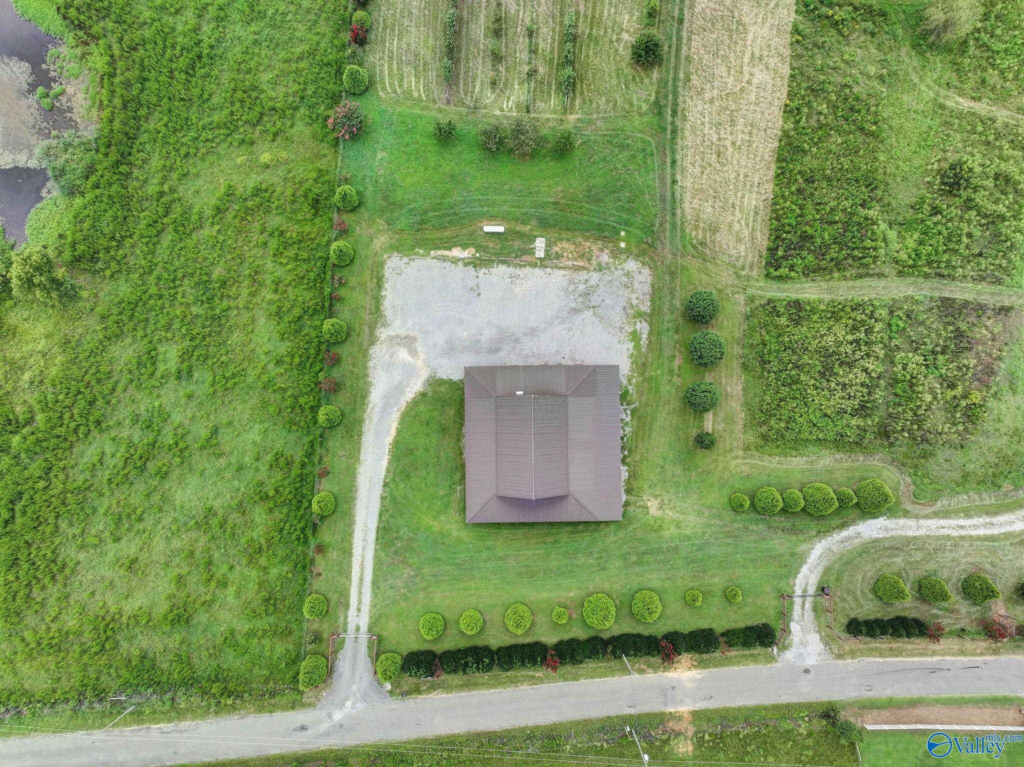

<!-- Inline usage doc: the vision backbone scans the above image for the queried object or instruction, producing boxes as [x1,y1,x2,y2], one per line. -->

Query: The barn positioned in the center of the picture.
[464,363,622,523]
